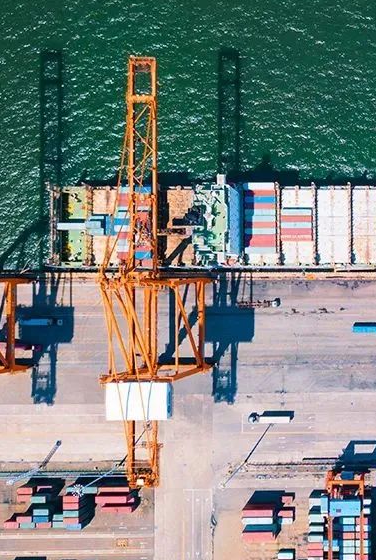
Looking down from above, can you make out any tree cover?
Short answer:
No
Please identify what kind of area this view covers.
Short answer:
port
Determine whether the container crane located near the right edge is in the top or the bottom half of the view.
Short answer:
bottom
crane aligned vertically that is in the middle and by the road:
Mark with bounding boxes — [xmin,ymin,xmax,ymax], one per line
[94,56,221,488]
